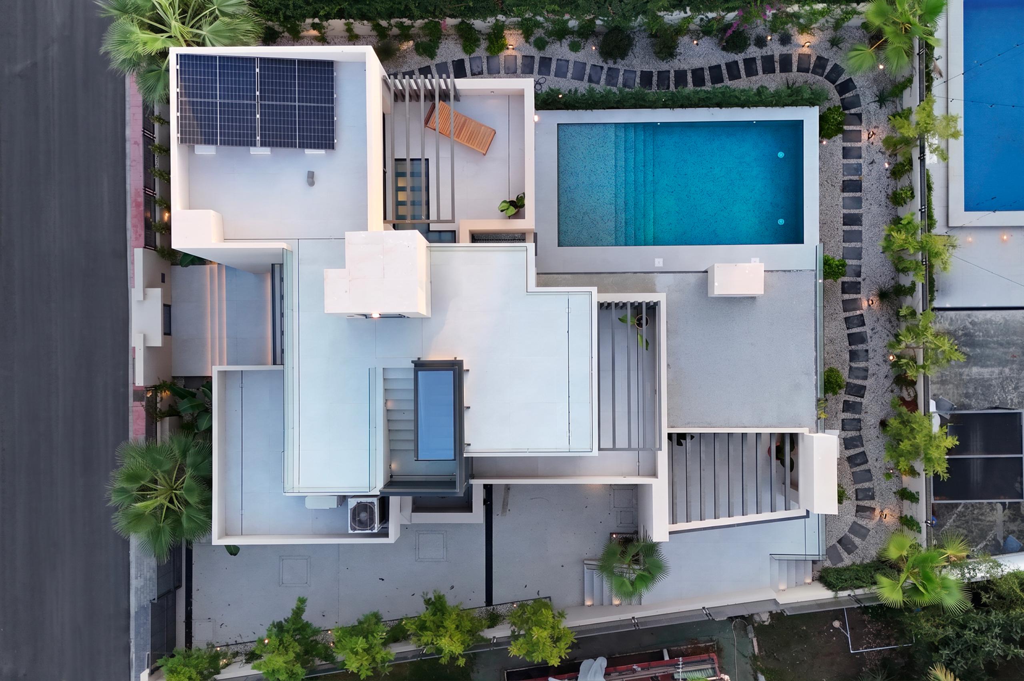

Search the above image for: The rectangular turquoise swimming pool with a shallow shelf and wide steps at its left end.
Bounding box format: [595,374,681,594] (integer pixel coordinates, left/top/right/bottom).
[557,121,804,248]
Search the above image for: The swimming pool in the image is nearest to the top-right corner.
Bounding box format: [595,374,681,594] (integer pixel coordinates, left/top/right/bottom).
[945,0,1024,228]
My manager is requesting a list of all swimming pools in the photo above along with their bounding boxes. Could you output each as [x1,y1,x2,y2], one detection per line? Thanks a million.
[945,0,1024,228]
[557,121,804,248]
